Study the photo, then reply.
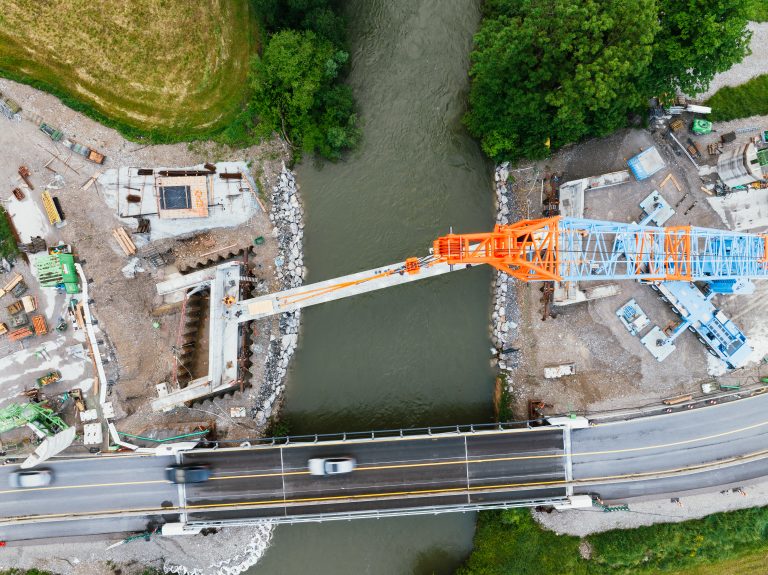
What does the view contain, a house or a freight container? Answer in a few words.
freight container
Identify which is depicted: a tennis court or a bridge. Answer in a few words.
bridge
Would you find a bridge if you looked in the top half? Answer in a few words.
No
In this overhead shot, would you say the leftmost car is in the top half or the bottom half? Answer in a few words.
bottom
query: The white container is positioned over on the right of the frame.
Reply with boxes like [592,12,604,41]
[618,146,665,184]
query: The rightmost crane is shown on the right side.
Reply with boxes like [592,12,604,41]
[404,205,768,370]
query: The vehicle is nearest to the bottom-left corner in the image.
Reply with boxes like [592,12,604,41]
[10,466,56,492]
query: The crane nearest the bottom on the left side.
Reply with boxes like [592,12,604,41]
[0,394,88,469]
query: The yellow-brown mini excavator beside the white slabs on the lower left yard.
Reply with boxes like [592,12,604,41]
[68,382,92,418]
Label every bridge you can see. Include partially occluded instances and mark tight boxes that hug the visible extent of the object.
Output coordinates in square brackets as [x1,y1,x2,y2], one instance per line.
[160,416,593,534]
